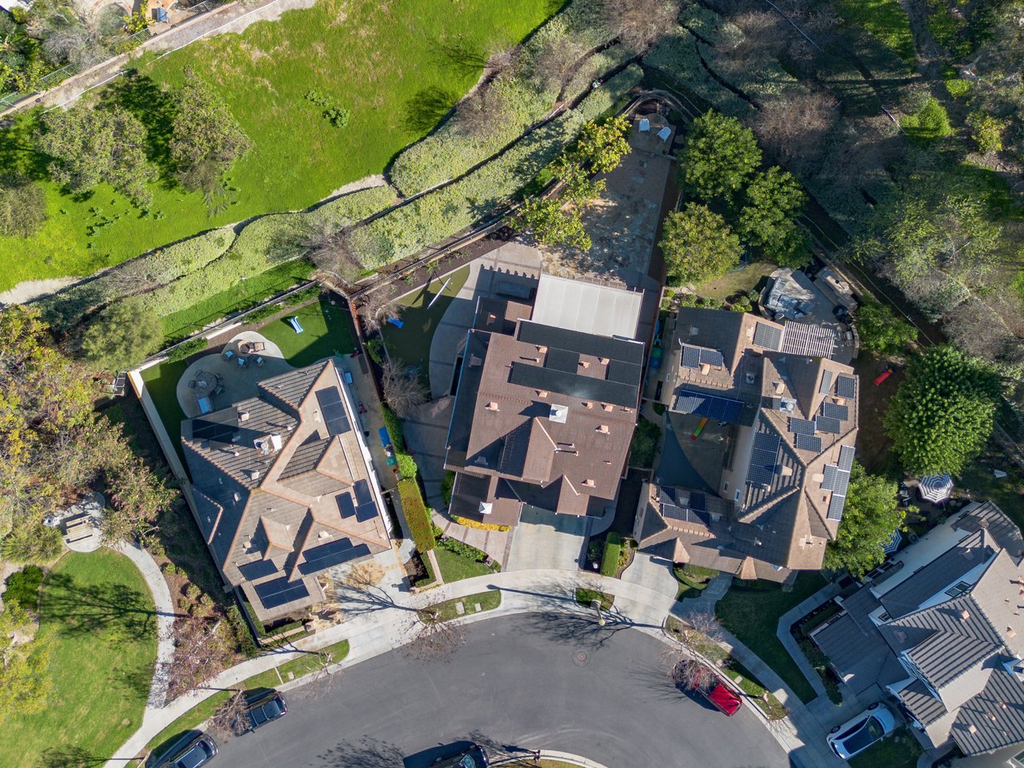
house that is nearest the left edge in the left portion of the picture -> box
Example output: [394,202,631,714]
[180,359,397,622]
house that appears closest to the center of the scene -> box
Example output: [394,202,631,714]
[443,296,646,526]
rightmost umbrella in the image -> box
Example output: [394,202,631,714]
[911,468,948,502]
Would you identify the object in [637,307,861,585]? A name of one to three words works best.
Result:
house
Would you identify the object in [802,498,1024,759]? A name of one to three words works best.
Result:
house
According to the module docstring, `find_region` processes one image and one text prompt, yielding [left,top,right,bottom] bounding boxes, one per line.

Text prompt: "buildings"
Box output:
[180,359,397,622]
[637,307,861,585]
[443,296,646,526]
[802,498,1024,759]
